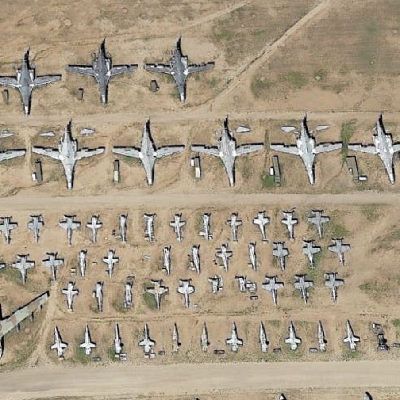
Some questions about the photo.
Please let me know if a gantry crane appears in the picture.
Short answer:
No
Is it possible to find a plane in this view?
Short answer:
Yes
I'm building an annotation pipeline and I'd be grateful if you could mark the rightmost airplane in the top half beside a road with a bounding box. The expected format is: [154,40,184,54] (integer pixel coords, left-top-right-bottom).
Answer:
[351,113,400,184]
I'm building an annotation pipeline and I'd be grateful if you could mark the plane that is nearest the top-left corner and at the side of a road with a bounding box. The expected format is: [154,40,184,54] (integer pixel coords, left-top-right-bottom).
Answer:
[0,47,64,116]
